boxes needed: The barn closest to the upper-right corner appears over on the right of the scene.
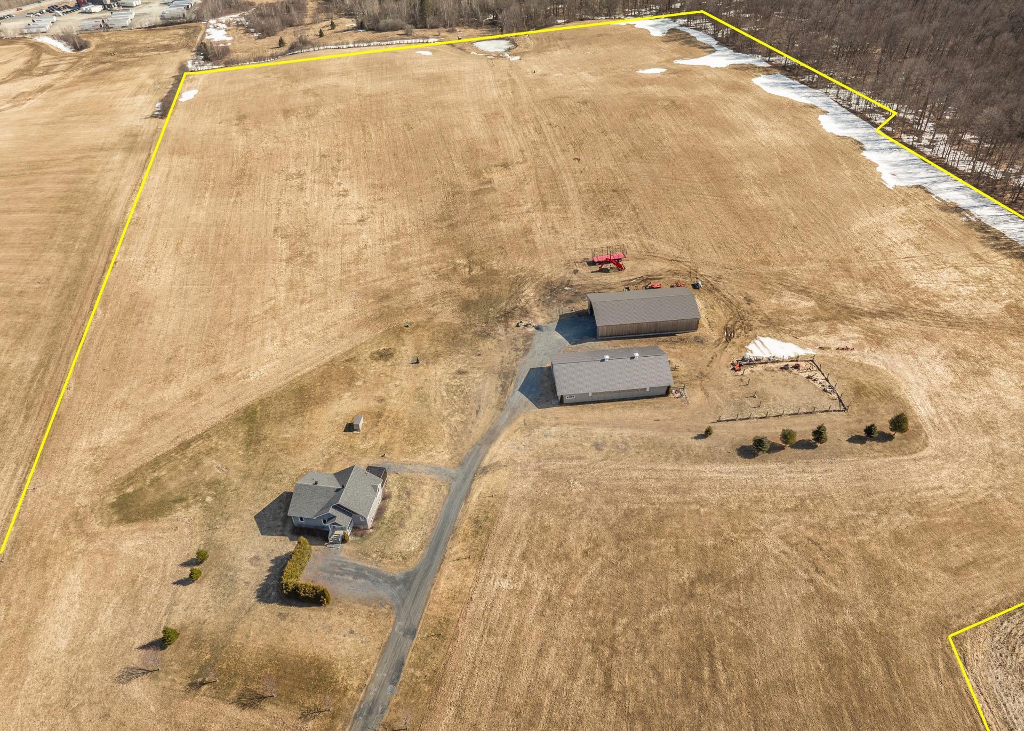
[587,288,702,339]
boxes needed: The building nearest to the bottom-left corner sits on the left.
[287,466,388,553]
